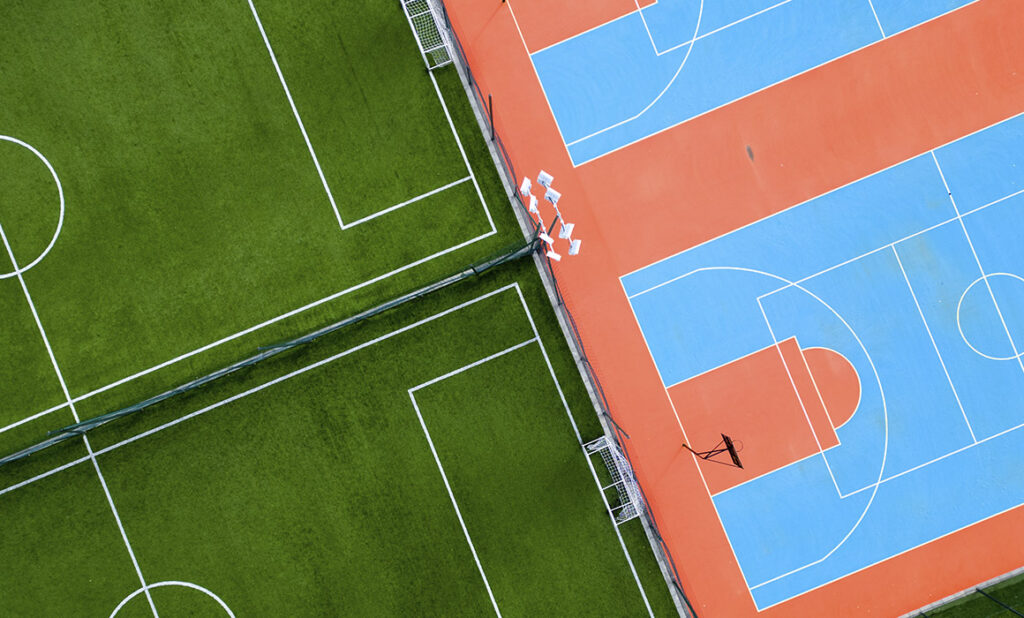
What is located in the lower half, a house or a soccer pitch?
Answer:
soccer pitch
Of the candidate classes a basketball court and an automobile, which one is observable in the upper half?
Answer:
basketball court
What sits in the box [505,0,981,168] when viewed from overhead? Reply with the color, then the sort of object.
blue basketball court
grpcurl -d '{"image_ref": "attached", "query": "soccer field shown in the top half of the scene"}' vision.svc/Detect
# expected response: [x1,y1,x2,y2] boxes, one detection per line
[0,0,528,460]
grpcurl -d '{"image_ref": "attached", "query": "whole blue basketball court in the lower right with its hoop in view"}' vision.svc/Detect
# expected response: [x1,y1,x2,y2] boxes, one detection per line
[619,112,1024,612]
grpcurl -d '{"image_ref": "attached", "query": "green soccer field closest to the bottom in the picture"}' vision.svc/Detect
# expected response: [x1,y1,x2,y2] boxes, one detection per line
[0,253,681,618]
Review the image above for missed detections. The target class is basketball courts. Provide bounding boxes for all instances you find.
[505,0,981,168]
[619,112,1024,612]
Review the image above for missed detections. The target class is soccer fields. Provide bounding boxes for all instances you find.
[0,0,528,460]
[0,253,681,618]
